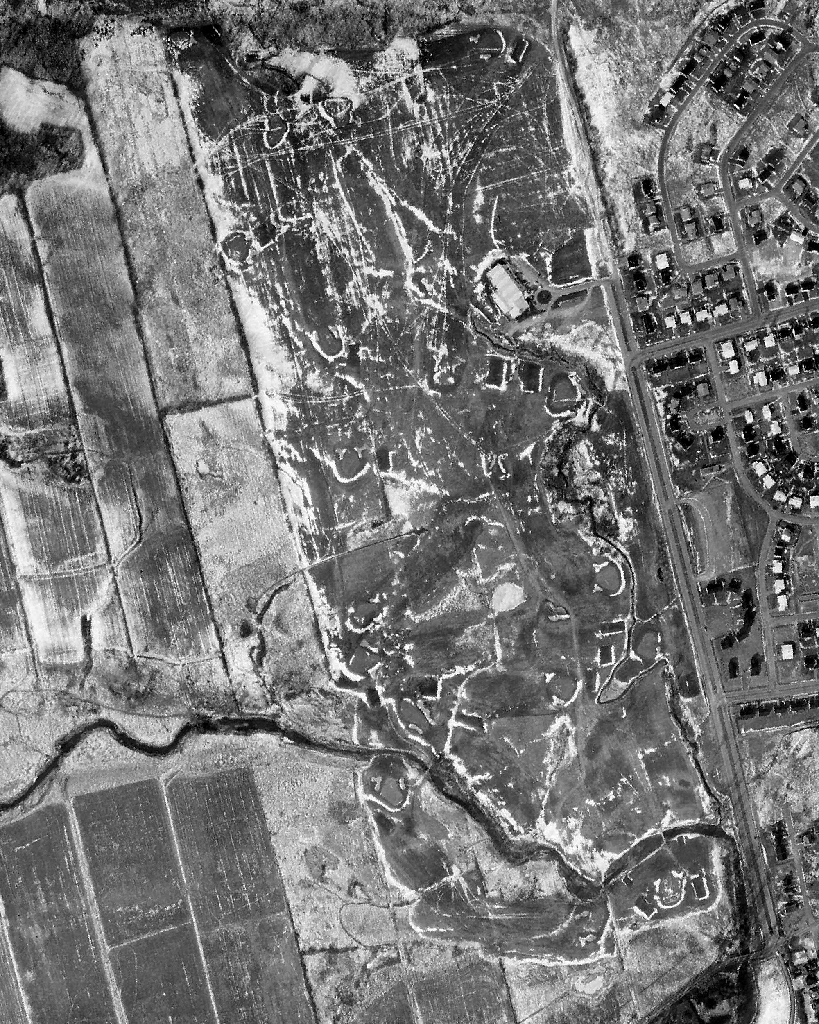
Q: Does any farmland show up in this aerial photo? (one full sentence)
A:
Yes, farmland shows up in the scene.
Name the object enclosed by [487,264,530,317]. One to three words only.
building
